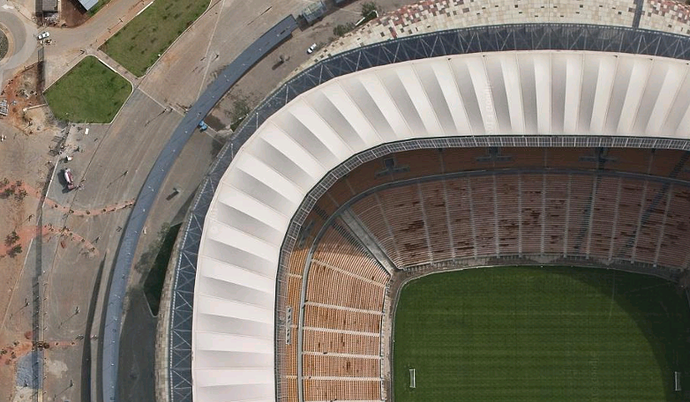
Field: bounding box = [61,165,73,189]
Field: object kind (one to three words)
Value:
vehicle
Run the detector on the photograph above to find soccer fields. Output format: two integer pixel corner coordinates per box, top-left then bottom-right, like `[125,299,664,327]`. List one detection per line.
[391,264,690,402]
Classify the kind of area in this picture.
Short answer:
sports ground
